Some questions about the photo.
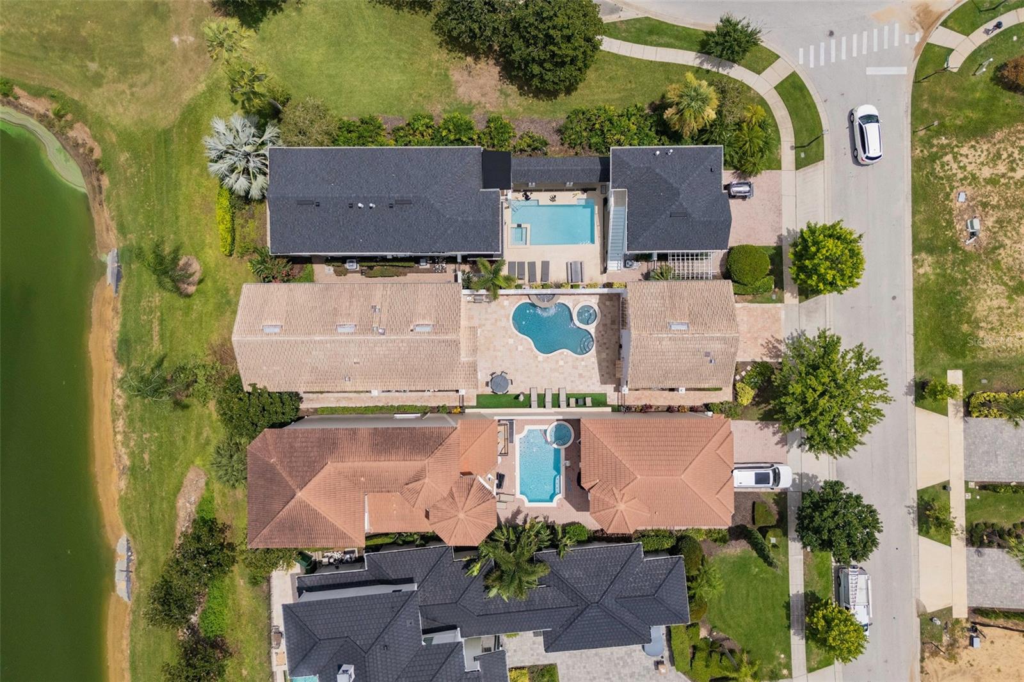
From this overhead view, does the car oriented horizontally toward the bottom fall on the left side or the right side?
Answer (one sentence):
The car oriented horizontally toward the bottom is on the right side of the image.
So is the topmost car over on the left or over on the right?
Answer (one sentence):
You can find the topmost car on the right side of the picture.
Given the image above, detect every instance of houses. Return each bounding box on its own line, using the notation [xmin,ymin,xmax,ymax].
[577,405,735,535]
[606,144,731,253]
[245,407,499,550]
[618,280,740,394]
[266,146,512,266]
[231,283,478,396]
[281,535,691,682]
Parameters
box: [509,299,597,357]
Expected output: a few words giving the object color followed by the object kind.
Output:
blue swimming pool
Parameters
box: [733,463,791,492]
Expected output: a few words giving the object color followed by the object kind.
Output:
white car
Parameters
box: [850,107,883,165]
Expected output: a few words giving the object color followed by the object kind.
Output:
white car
